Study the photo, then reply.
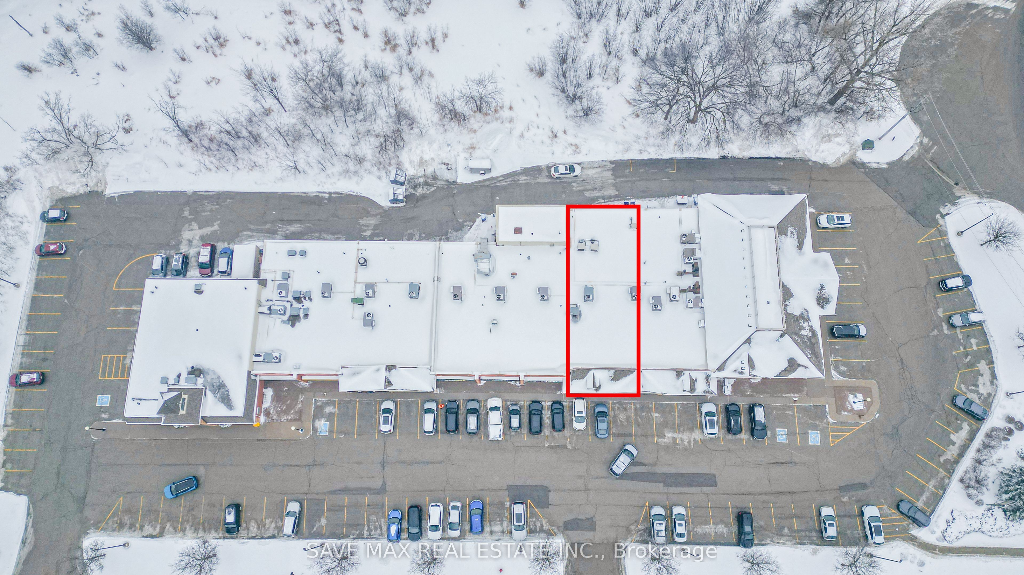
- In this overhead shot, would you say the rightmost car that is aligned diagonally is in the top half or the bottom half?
bottom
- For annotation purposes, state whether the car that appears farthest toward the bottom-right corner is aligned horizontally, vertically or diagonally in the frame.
diagonally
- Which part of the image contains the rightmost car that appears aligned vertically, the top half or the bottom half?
bottom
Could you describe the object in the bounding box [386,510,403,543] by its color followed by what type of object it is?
blue car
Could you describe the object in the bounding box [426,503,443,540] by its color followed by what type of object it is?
white car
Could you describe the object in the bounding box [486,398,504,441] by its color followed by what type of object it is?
white vehicle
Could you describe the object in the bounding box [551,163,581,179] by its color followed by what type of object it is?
white car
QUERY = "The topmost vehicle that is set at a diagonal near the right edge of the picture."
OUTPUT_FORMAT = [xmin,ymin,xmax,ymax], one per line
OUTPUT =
[950,393,991,423]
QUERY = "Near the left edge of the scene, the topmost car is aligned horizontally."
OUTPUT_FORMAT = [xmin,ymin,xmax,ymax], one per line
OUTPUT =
[39,209,70,224]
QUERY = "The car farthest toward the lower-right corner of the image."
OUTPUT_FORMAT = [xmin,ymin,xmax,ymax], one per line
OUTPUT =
[895,499,932,530]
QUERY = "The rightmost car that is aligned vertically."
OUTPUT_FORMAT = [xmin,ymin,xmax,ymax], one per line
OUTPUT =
[861,505,886,546]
